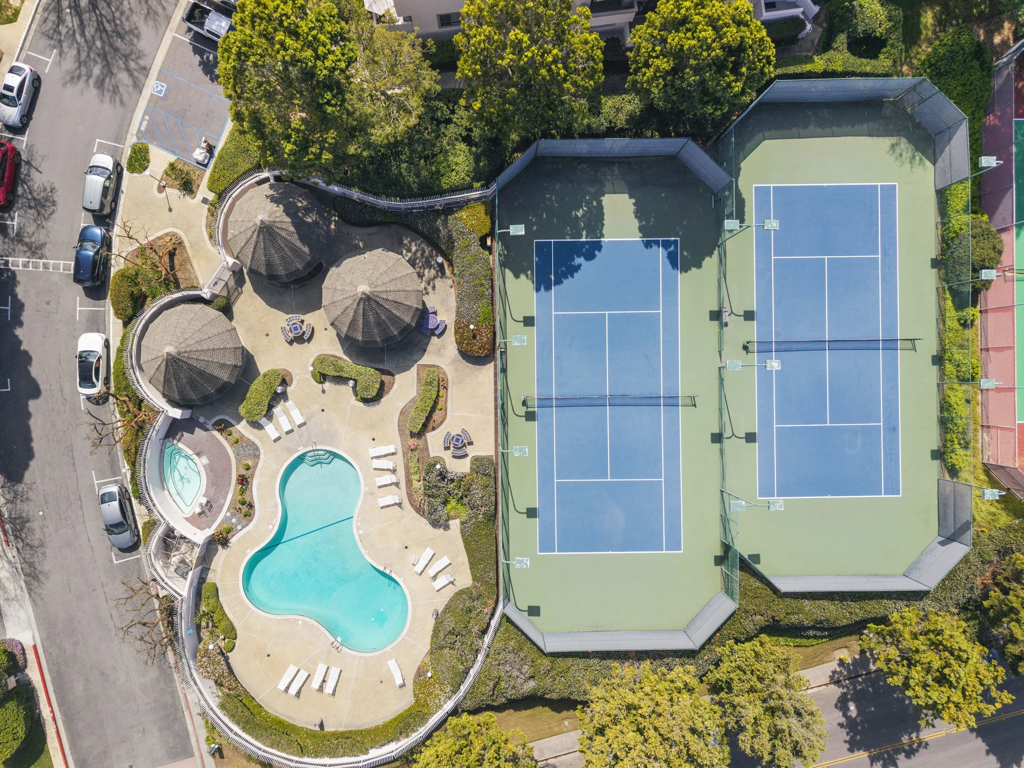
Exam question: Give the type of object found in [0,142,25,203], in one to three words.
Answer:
car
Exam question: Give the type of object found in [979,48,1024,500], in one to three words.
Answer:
tennis court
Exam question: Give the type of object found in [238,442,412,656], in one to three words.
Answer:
swimming pool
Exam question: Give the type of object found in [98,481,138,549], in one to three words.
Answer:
car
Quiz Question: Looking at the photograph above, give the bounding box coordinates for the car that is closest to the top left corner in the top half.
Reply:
[0,58,36,126]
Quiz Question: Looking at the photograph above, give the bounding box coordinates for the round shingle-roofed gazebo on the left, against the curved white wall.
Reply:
[142,301,252,405]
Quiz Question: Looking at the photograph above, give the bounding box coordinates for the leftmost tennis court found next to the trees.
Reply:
[498,155,729,633]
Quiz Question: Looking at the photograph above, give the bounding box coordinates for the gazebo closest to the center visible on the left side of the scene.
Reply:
[322,246,427,350]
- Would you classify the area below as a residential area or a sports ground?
sports ground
